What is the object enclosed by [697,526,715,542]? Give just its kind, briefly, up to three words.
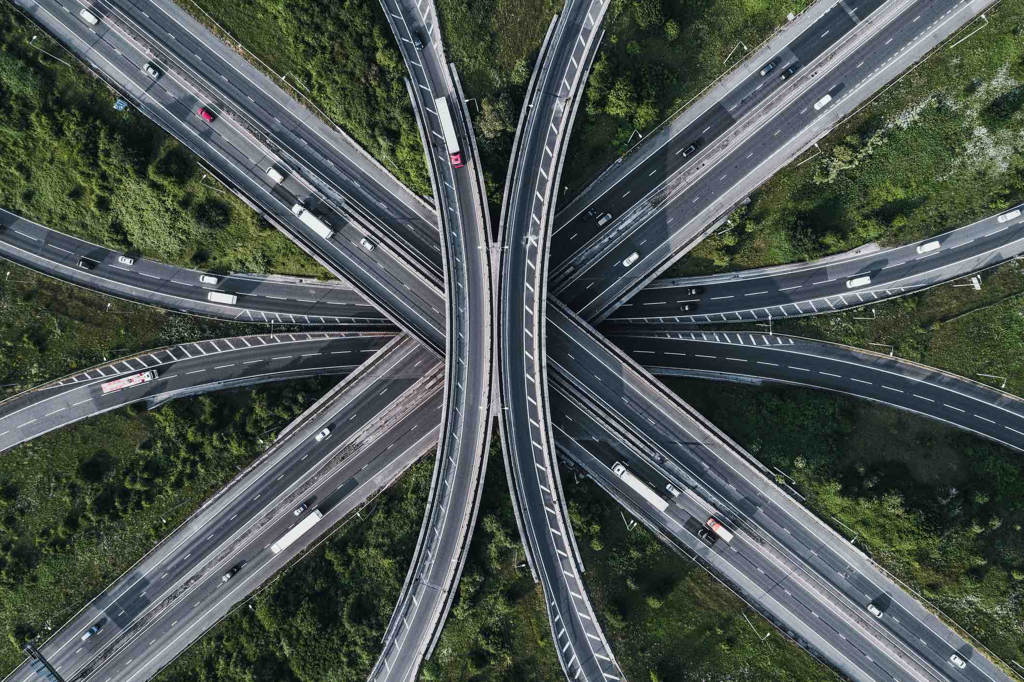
car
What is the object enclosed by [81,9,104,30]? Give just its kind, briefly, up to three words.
vehicle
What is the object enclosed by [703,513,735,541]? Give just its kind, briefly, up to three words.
truck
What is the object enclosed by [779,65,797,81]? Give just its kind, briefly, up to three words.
car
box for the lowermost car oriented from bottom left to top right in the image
[82,622,101,640]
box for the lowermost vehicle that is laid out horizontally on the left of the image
[99,369,163,393]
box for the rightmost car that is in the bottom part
[947,652,966,669]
